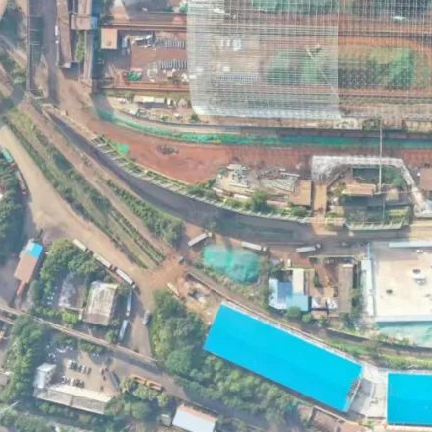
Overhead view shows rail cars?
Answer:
No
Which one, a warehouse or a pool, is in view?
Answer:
warehouse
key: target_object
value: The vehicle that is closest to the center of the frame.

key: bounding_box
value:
[185,231,210,248]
